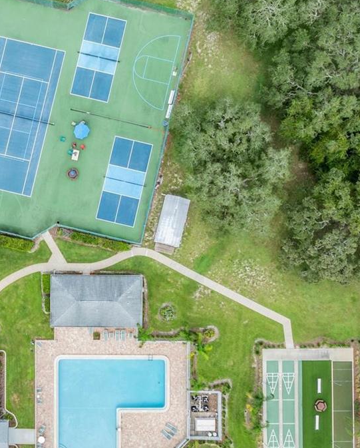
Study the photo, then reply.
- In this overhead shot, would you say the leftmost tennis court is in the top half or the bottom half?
top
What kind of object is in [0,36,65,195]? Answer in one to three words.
tennis court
